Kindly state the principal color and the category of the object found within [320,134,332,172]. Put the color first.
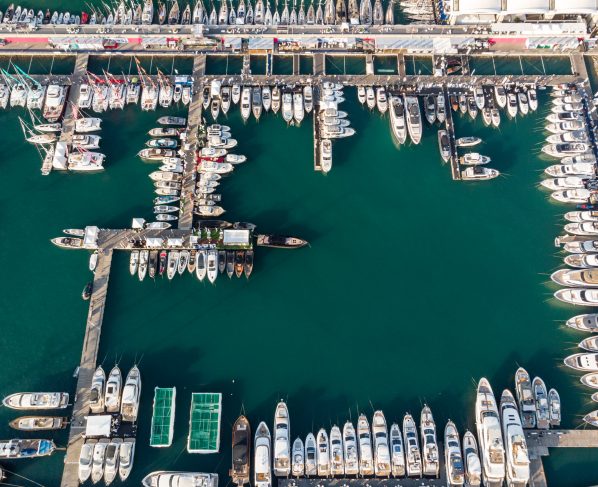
white boat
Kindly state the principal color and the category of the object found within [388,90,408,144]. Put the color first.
white boat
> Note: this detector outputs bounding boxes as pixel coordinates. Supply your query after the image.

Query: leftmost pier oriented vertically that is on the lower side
[58,237,113,487]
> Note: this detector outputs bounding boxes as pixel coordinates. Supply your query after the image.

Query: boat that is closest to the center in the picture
[257,234,311,248]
